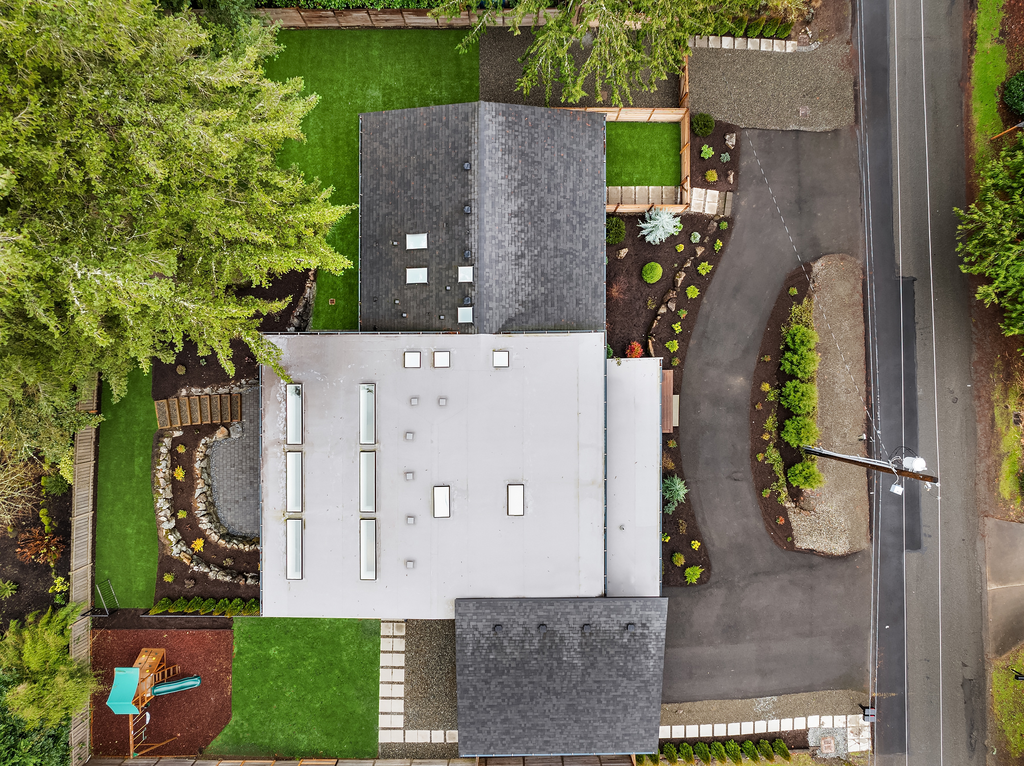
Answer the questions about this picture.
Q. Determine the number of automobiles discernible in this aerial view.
0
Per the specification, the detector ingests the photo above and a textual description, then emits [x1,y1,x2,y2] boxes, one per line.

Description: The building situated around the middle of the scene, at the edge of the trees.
[259,101,668,759]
